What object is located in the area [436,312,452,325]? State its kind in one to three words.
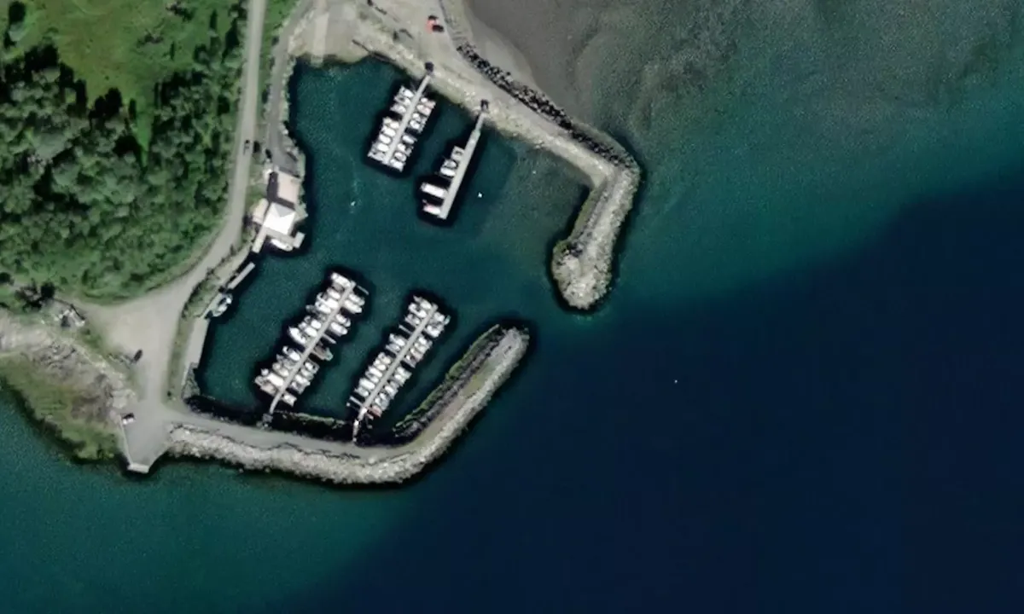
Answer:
boat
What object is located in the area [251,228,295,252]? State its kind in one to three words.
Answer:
pier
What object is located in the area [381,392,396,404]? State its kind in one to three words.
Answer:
boat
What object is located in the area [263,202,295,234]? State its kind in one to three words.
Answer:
house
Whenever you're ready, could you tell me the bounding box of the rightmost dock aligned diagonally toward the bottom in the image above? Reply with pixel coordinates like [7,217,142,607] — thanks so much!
[350,298,450,439]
